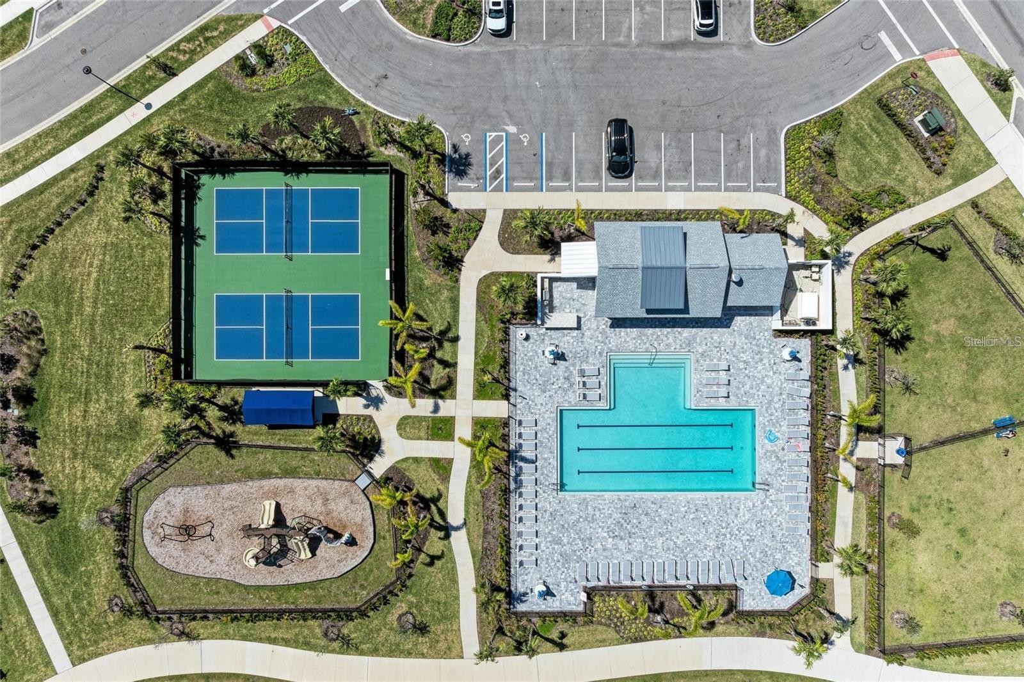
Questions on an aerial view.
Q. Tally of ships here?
0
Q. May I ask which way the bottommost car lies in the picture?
from top to bottom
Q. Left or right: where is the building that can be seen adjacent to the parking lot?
right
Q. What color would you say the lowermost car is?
black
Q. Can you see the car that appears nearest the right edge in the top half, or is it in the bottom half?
top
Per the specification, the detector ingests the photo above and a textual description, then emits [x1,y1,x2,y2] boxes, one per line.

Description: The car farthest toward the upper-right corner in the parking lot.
[693,0,717,32]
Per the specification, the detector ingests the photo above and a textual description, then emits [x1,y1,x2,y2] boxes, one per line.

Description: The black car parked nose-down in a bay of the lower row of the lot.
[607,121,632,176]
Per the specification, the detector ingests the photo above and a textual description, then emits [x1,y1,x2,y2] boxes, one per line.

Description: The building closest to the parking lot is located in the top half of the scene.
[561,221,788,318]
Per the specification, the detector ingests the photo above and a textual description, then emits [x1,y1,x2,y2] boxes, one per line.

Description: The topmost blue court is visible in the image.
[215,187,360,254]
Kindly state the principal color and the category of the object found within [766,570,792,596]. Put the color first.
blue umbrella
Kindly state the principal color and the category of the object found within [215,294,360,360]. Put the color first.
blue sports court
